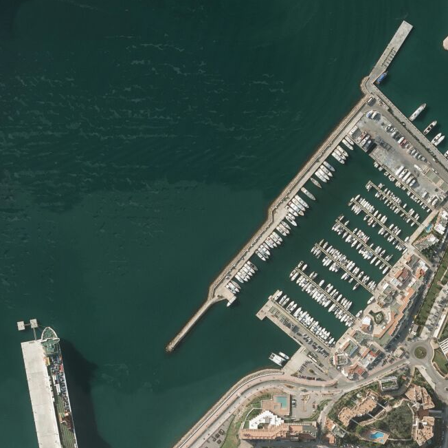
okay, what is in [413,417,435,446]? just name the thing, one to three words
building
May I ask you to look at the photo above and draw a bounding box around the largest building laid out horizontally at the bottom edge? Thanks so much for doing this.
[241,422,317,440]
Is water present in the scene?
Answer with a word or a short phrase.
Yes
